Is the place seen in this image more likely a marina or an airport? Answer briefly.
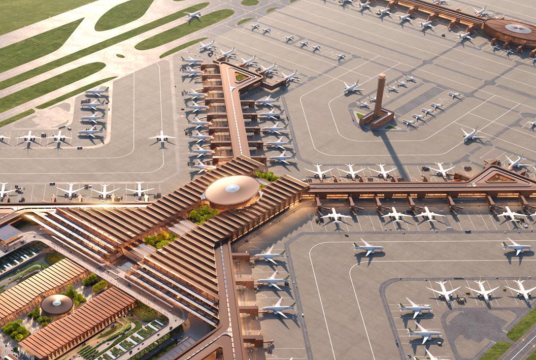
airport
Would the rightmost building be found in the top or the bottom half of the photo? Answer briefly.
top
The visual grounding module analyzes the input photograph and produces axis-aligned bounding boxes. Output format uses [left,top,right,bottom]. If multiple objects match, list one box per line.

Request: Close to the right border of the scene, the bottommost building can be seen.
[482,18,536,53]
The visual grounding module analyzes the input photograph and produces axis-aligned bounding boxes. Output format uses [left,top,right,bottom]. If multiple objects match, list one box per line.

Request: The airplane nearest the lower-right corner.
[507,278,536,301]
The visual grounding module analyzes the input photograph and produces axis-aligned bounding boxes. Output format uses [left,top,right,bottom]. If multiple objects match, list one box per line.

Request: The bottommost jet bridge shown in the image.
[243,334,274,348]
